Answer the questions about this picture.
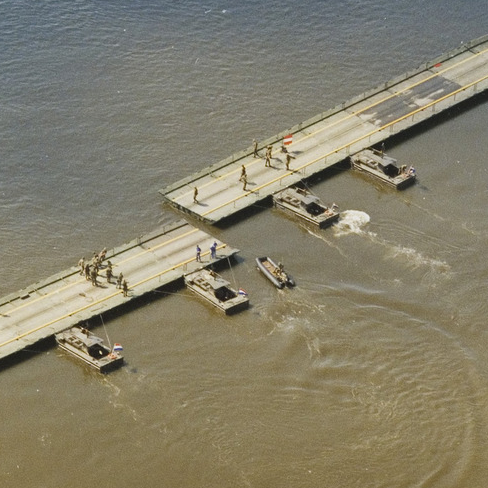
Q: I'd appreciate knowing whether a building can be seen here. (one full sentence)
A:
No, no building can be seen from above.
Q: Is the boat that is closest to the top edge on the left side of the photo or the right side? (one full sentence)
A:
It is on the right.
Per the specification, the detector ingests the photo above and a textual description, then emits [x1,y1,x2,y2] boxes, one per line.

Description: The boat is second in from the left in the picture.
[189,258,253,317]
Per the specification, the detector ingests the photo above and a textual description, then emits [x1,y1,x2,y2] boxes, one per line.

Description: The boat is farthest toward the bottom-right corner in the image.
[256,255,295,290]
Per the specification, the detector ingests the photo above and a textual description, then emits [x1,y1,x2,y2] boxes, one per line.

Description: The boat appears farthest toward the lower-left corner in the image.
[63,314,127,378]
